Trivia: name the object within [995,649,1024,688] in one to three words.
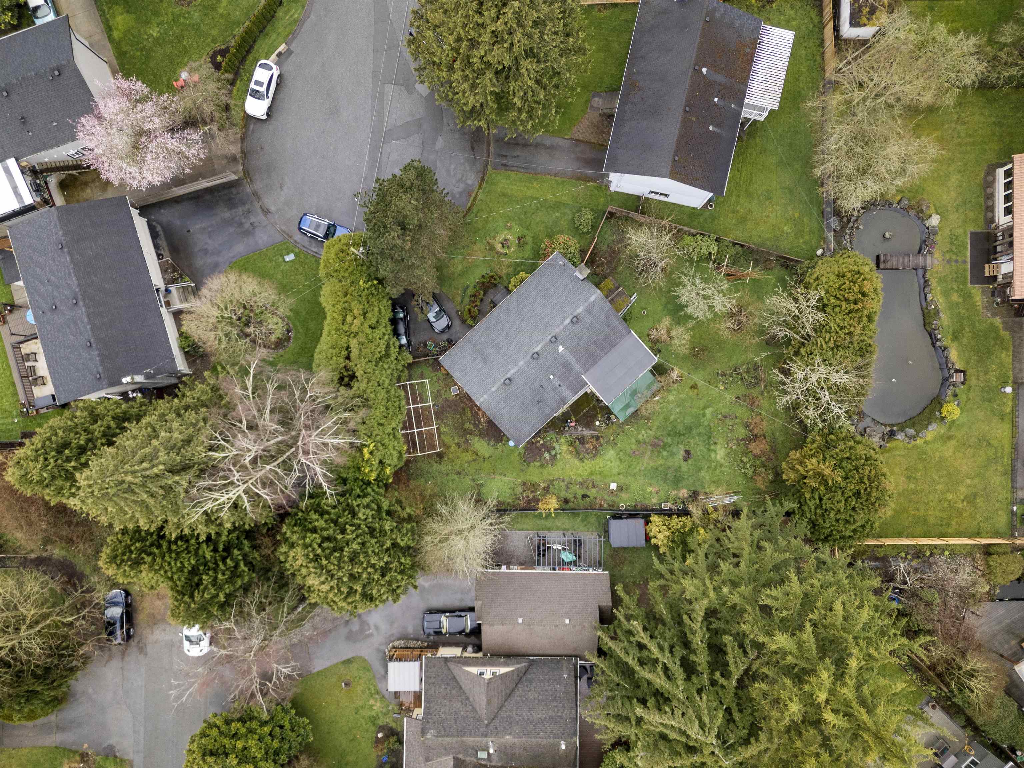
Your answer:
shed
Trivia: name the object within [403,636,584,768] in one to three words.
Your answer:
house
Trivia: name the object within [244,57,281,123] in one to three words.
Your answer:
car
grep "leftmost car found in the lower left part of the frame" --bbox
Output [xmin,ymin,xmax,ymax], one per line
[102,585,138,645]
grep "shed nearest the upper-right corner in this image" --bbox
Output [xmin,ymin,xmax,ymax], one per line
[836,0,888,44]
